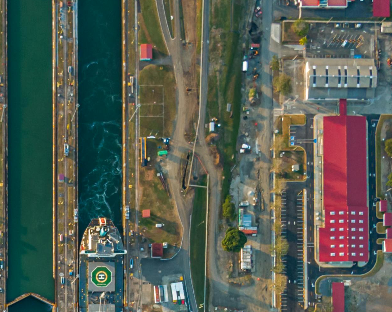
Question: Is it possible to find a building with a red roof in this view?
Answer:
Yes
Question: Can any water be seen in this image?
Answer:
Yes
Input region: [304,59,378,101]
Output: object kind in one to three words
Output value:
building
